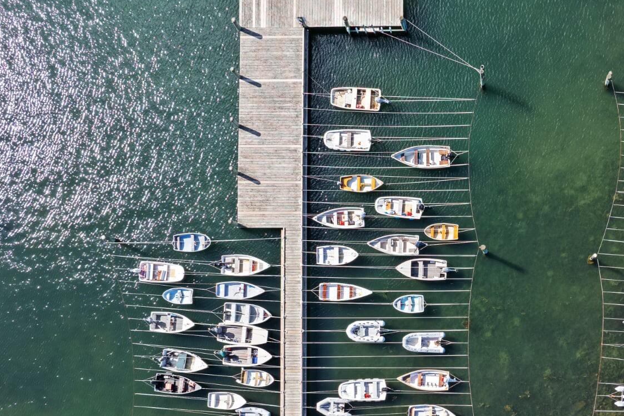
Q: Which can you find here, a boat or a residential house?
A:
boat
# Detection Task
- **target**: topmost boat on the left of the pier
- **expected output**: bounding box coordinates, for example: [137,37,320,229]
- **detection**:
[174,233,211,252]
